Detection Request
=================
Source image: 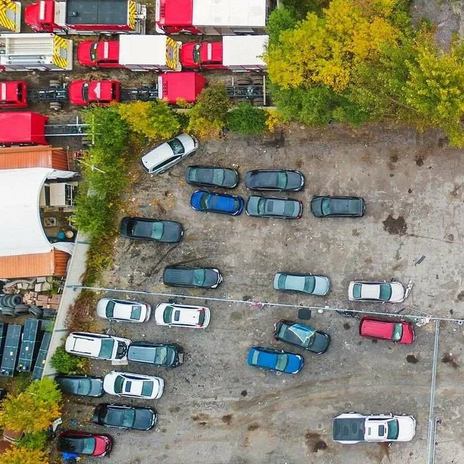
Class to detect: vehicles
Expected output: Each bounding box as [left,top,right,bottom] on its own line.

[118,216,185,245]
[0,81,68,116]
[79,35,186,75]
[329,413,416,444]
[96,297,153,323]
[189,188,246,217]
[54,432,115,458]
[244,165,305,193]
[70,76,159,109]
[51,375,104,399]
[136,133,200,176]
[0,114,104,149]
[92,404,159,432]
[358,316,417,346]
[25,0,152,39]
[60,332,130,368]
[158,0,277,40]
[273,270,331,297]
[245,191,304,221]
[347,279,406,305]
[160,262,224,291]
[124,341,187,368]
[0,34,76,75]
[154,301,213,328]
[185,164,240,189]
[182,35,277,78]
[271,318,334,355]
[245,345,306,377]
[103,372,166,399]
[310,191,366,219]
